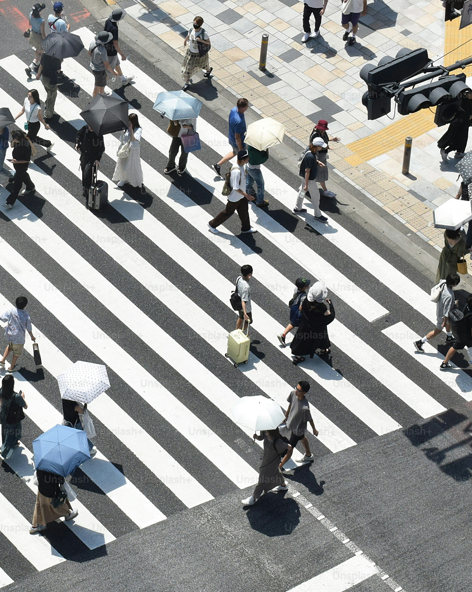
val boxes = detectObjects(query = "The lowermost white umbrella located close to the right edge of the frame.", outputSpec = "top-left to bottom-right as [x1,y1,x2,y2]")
[432,199,472,237]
